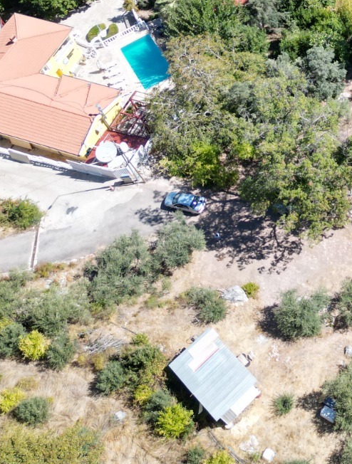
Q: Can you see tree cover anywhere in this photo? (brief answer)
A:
Yes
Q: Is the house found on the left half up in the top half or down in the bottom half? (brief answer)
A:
top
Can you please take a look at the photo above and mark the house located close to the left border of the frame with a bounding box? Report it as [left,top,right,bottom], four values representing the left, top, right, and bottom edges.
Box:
[0,14,121,160]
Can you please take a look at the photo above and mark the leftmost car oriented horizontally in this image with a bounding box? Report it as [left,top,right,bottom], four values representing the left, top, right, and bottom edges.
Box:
[160,189,206,214]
